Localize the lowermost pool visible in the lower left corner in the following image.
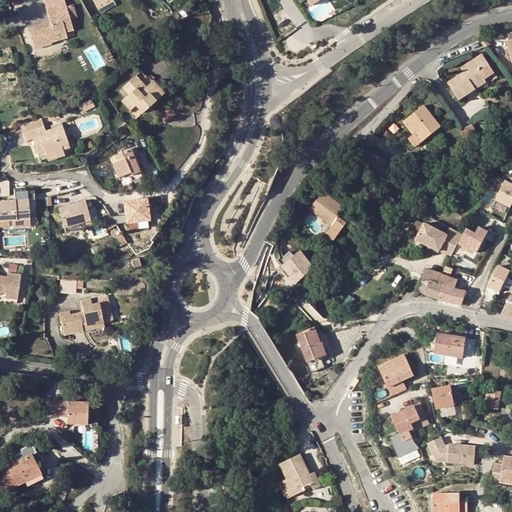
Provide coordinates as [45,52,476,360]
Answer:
[82,430,98,452]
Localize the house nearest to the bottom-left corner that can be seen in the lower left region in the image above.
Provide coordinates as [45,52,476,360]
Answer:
[8,446,43,490]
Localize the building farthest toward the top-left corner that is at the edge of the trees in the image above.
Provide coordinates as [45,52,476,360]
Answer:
[28,0,78,48]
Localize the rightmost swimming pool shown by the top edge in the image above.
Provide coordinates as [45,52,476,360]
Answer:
[308,2,336,22]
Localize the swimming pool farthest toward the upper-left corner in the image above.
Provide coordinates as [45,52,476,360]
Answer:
[84,45,106,72]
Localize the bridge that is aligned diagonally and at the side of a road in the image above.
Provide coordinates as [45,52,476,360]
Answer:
[245,317,316,414]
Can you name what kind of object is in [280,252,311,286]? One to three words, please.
house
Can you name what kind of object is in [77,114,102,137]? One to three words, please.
swimming pool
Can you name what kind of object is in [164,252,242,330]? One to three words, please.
roundabout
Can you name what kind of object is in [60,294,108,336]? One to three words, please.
house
